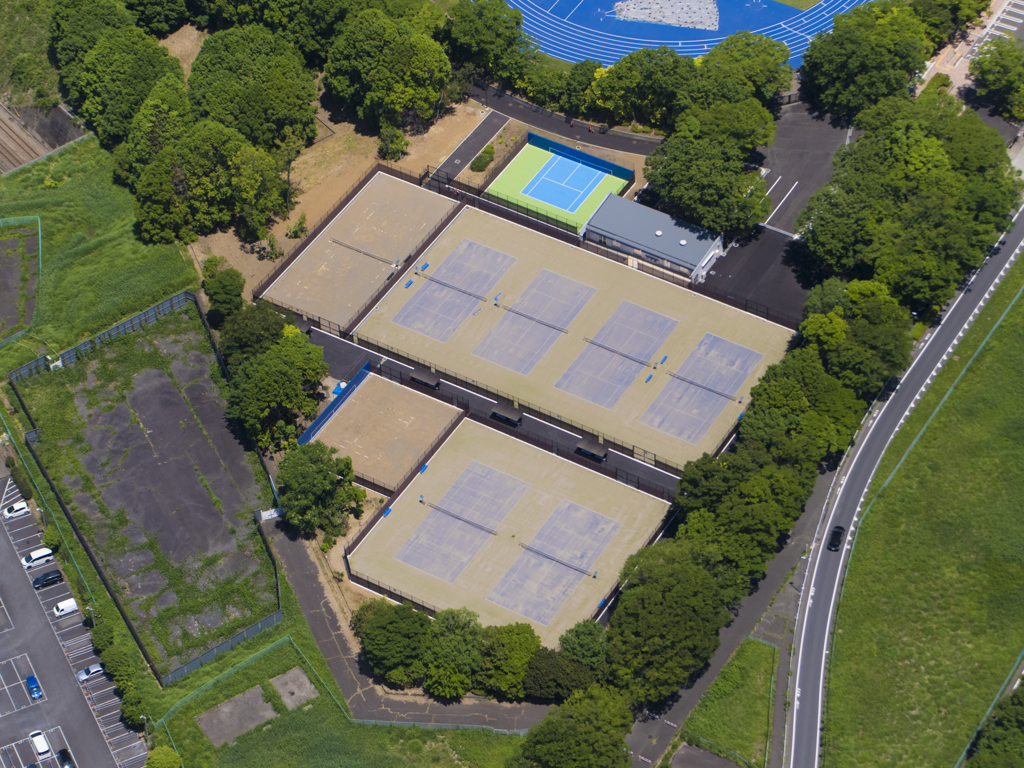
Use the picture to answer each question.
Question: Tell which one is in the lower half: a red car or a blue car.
blue car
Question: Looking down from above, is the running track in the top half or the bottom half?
top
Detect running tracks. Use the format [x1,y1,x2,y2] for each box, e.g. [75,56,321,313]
[464,0,869,80]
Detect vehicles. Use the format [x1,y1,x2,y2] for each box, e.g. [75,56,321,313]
[4,502,30,519]
[32,570,63,589]
[76,663,107,683]
[50,596,79,618]
[25,674,41,698]
[29,731,50,759]
[828,525,844,550]
[27,762,40,768]
[21,547,53,569]
[57,749,76,768]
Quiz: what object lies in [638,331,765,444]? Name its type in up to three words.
tennis court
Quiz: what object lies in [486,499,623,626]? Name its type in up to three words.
tennis court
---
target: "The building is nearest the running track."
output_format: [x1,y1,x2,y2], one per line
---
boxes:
[579,187,724,283]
